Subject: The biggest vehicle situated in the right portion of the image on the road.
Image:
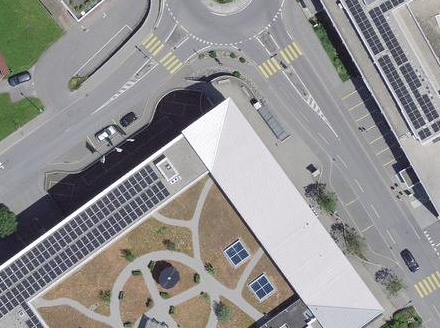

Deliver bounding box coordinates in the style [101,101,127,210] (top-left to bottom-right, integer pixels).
[402,248,418,272]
